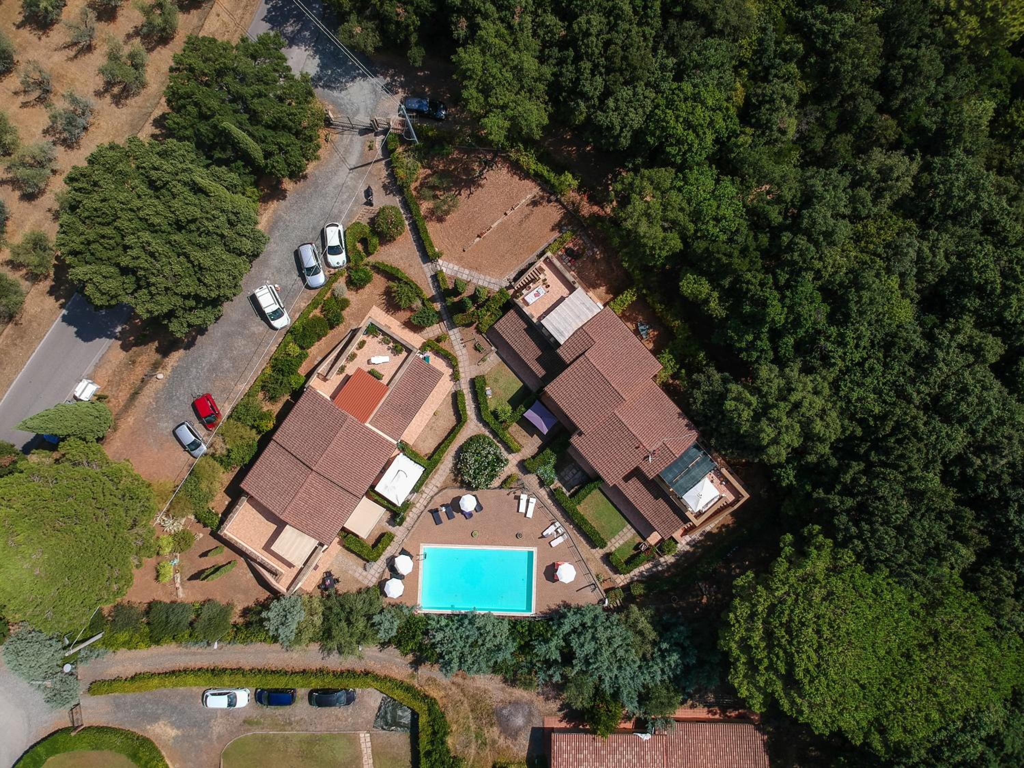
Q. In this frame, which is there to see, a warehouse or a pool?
pool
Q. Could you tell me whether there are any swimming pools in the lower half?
Yes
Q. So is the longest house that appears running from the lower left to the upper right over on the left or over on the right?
left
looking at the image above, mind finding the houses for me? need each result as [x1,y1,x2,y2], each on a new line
[493,250,752,540]
[550,706,772,768]
[219,316,444,594]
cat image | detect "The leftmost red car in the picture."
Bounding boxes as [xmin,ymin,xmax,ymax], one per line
[192,392,221,433]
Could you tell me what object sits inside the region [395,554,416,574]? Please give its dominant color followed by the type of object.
white umbrella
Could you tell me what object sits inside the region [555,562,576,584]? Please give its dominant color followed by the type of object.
white umbrella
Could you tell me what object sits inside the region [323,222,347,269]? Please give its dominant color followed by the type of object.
white car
